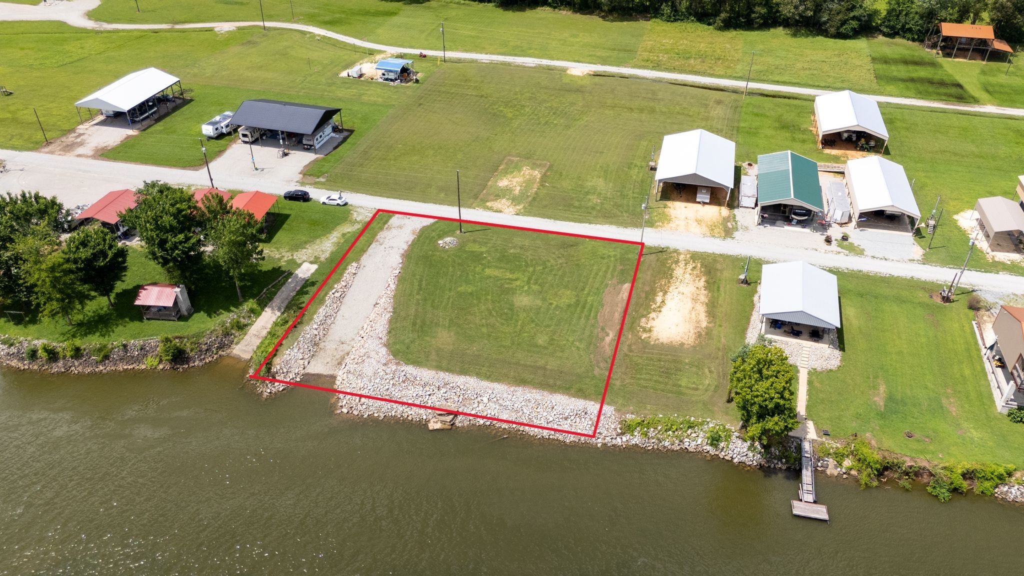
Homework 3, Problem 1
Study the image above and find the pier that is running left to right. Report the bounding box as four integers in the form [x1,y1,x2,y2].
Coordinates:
[791,500,828,523]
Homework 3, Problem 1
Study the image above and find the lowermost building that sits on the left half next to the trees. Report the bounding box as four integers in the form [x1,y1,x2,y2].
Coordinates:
[136,283,194,325]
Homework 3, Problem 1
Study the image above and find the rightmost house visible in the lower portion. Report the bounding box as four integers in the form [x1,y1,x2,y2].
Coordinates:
[988,308,1024,390]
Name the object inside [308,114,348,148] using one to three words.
trailer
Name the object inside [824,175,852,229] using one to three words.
trailer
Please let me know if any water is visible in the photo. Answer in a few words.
Yes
